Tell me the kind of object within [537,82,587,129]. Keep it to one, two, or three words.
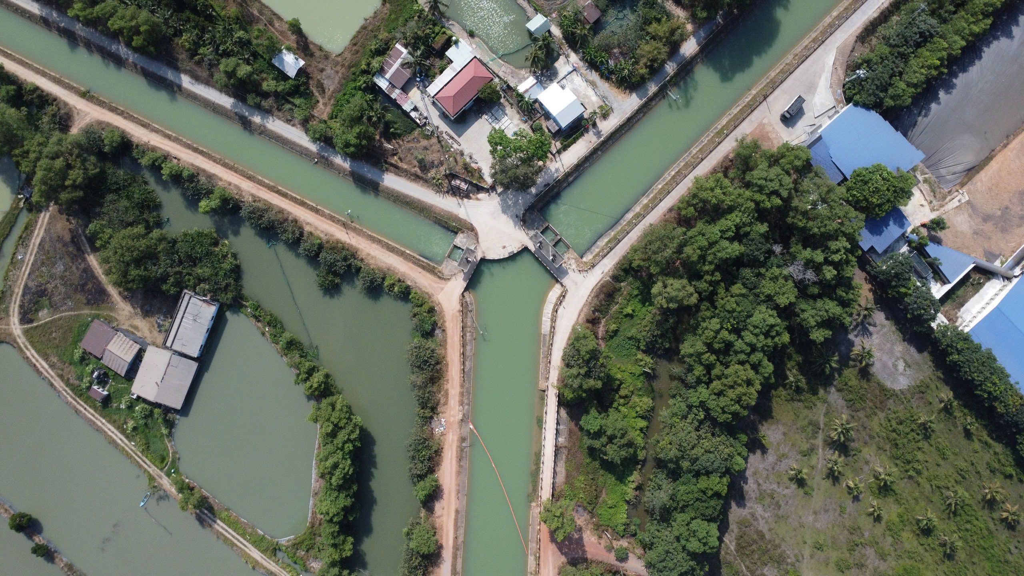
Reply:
house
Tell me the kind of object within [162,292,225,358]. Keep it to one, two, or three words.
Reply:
building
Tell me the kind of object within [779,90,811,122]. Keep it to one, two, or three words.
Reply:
truck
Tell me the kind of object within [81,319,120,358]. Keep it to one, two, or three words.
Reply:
shed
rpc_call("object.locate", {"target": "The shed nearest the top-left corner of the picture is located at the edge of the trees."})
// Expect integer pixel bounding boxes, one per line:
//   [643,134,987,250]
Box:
[272,49,307,81]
